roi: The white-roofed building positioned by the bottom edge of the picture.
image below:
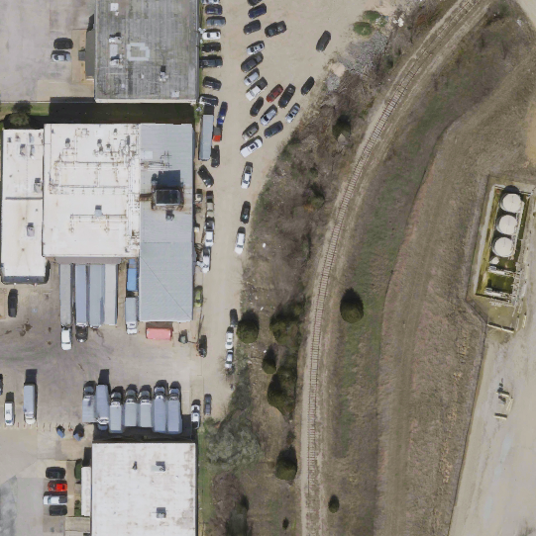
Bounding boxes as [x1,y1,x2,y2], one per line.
[82,442,197,536]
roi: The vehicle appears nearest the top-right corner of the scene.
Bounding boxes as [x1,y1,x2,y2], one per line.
[316,31,332,52]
